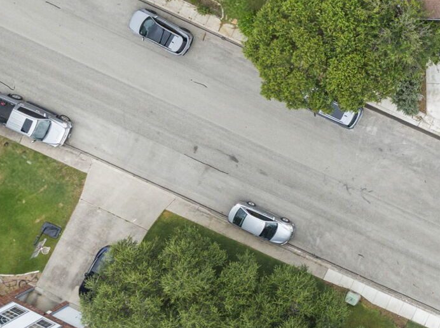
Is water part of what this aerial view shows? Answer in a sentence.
No, no water is visible.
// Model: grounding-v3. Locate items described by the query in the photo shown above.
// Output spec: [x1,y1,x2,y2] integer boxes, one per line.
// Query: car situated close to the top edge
[130,8,194,54]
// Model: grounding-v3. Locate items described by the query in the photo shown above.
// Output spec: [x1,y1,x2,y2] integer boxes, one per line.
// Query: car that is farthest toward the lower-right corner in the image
[228,199,293,243]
